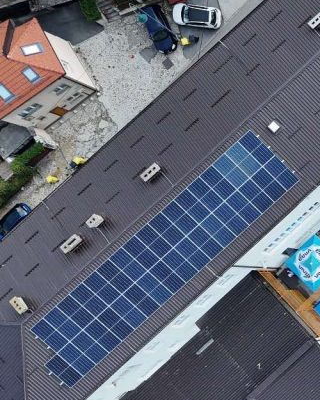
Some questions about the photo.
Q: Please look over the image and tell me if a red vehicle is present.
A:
No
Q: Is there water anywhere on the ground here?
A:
No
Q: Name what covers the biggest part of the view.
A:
buildings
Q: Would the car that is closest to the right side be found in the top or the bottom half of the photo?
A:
top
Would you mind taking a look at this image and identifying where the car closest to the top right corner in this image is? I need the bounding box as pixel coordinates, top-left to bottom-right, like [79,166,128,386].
[172,0,224,33]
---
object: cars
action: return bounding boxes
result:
[0,199,34,236]
[172,0,224,33]
[141,6,179,58]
